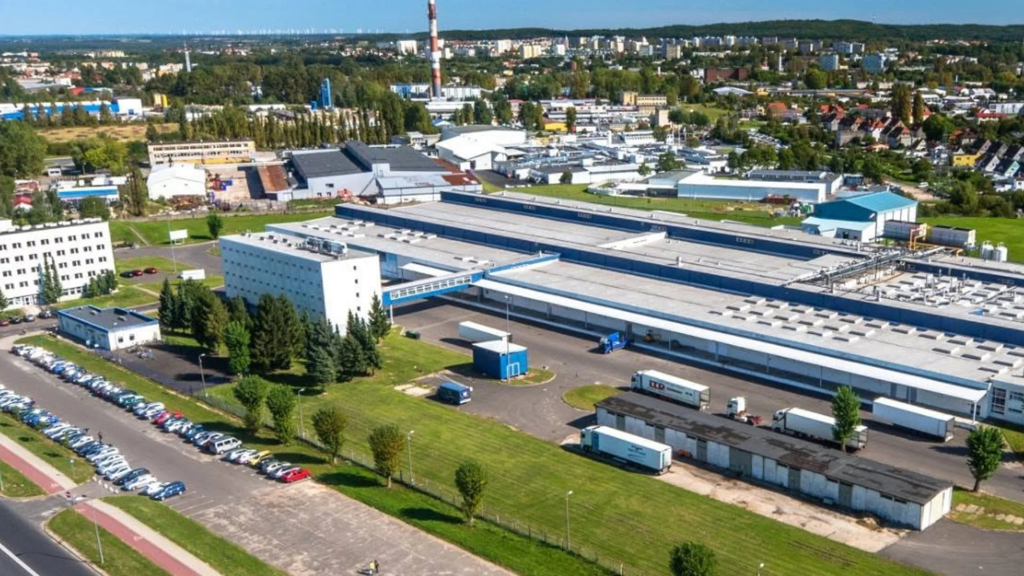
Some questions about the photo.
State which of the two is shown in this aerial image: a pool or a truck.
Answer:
truck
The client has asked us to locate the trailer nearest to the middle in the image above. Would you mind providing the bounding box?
[459,322,509,343]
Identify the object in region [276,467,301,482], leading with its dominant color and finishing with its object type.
red car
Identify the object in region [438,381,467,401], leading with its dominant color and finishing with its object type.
blue vehicle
